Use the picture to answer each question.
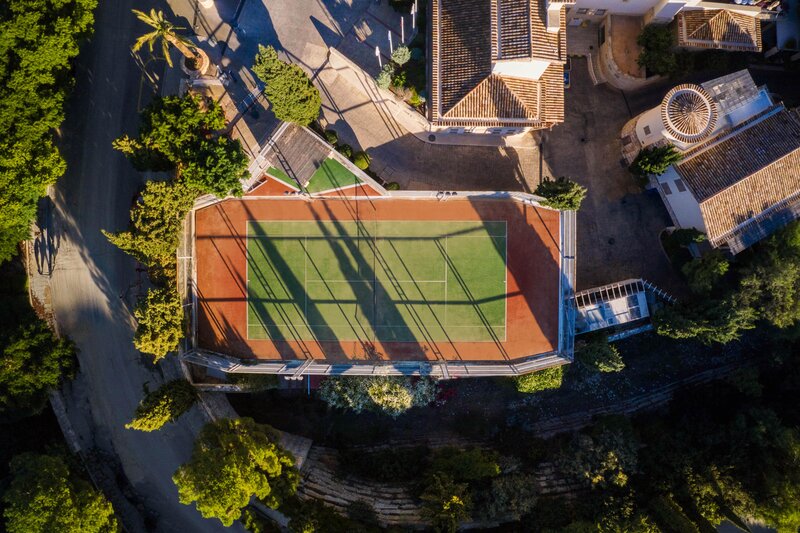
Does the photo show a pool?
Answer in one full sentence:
No, the frame has no pool in it.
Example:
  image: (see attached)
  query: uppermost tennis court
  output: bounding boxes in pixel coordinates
[196,199,559,363]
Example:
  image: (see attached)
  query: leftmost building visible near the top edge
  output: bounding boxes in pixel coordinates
[431,0,569,134]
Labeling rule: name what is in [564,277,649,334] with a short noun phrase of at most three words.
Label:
shed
